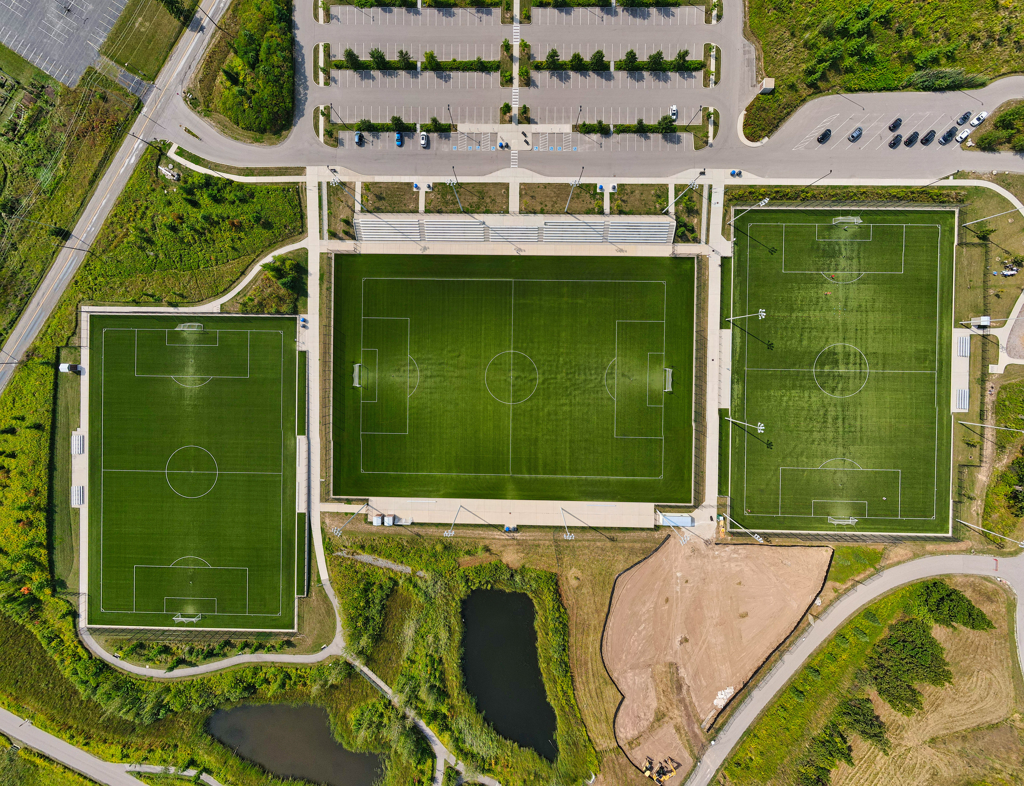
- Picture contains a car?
Yes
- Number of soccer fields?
3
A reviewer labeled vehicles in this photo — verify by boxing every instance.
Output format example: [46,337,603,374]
[419,132,427,146]
[957,111,972,125]
[394,131,402,146]
[956,128,971,142]
[971,110,990,126]
[889,135,904,148]
[653,757,676,782]
[353,131,362,144]
[905,132,921,146]
[848,126,865,142]
[818,129,834,143]
[889,117,905,131]
[921,130,939,145]
[940,128,958,143]
[641,755,655,775]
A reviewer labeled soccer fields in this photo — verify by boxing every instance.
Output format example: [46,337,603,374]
[729,207,957,536]
[86,313,298,631]
[331,252,697,505]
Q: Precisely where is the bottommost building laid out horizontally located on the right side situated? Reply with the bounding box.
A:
[658,513,694,527]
